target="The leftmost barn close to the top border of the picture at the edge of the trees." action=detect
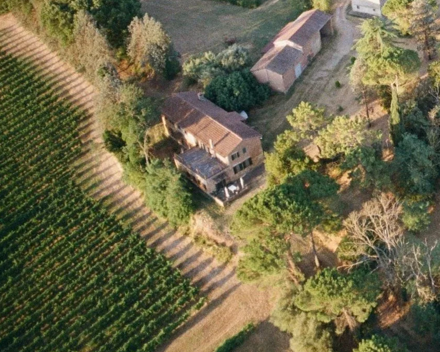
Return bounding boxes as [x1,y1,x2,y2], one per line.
[255,5,332,92]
